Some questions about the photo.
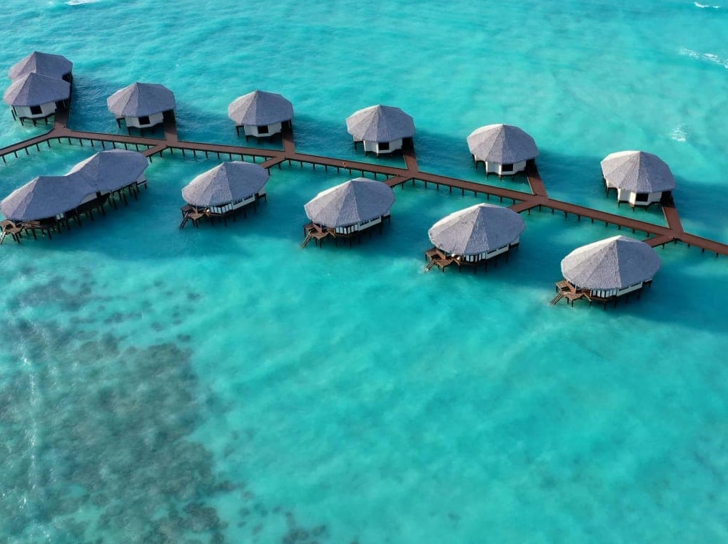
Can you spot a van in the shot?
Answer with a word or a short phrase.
No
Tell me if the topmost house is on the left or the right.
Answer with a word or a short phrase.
left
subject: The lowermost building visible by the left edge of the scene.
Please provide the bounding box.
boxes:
[0,146,149,250]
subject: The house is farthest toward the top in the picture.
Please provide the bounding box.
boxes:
[12,48,80,97]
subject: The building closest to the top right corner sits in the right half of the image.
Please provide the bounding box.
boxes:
[601,149,678,215]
